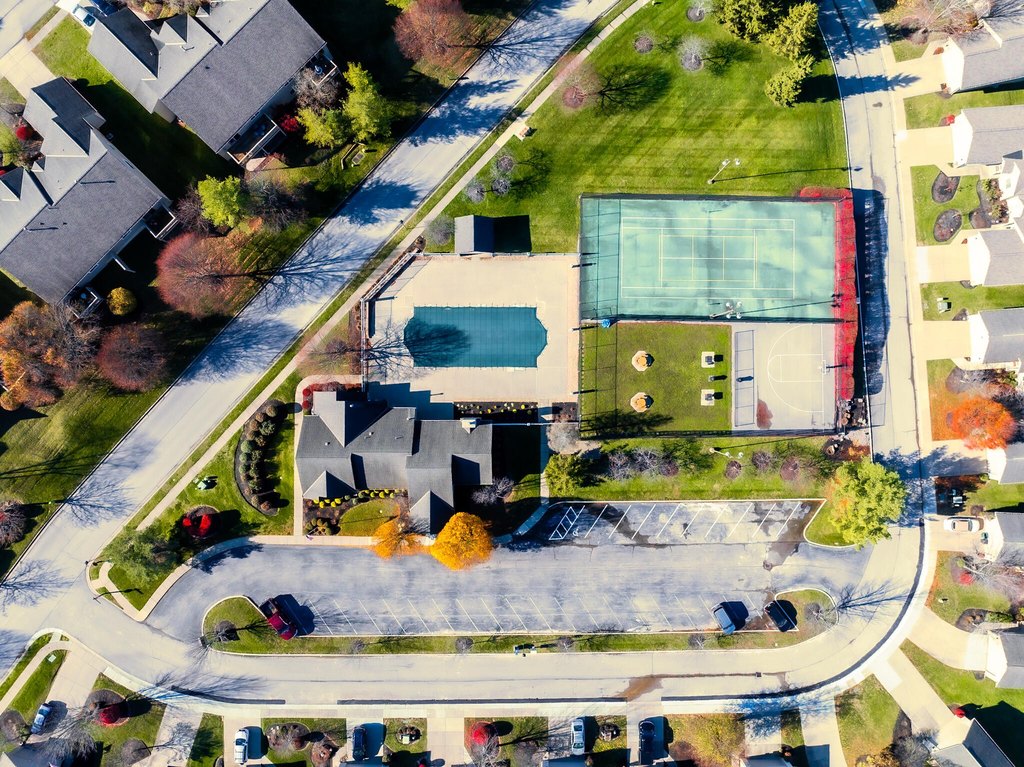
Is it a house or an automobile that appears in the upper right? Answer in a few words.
house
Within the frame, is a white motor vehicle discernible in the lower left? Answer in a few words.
Yes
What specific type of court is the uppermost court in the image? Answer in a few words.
tennis court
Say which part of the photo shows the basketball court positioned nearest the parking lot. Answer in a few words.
right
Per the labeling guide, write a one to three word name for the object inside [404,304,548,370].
swimming pool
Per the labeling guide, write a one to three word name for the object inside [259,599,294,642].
truck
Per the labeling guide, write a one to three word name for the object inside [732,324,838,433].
basketball court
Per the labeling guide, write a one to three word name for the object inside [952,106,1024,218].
house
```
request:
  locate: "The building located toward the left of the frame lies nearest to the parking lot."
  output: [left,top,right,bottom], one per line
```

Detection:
[296,391,493,537]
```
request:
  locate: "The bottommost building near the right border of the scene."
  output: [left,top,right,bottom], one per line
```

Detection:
[922,714,1010,767]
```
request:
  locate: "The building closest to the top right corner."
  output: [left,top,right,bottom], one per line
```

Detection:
[939,9,1024,100]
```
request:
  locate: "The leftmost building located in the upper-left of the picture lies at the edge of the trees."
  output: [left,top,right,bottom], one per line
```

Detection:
[0,81,186,321]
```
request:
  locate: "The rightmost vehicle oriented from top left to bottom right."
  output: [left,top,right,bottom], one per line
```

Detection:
[764,602,794,635]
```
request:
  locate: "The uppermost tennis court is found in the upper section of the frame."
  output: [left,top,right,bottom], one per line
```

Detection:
[582,201,838,320]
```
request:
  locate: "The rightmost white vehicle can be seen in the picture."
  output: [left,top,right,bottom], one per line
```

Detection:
[943,517,982,535]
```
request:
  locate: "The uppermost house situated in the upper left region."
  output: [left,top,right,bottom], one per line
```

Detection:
[92,0,342,170]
